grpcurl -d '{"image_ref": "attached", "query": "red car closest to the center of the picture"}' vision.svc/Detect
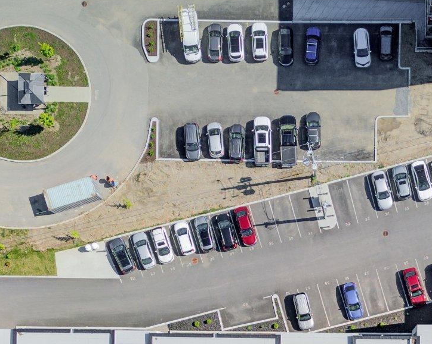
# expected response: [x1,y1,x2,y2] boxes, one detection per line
[235,207,257,246]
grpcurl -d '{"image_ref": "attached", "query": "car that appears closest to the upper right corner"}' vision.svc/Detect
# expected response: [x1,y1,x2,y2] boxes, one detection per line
[376,21,395,64]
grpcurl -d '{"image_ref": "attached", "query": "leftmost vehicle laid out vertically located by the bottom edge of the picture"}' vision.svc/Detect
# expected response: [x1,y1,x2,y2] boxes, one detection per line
[292,292,313,329]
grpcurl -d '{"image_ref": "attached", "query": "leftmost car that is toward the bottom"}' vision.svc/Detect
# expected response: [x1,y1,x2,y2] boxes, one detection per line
[109,238,134,275]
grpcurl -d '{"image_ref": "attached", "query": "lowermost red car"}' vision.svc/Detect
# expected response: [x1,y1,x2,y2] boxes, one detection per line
[403,267,425,306]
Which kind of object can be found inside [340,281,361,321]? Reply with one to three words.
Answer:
car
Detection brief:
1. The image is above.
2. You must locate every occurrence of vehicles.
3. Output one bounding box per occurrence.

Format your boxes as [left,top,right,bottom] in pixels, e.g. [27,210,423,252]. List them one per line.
[192,214,217,252]
[370,171,392,210]
[225,23,244,63]
[172,219,197,257]
[275,26,294,68]
[292,292,313,329]
[206,123,225,159]
[109,238,134,275]
[252,117,272,166]
[303,27,321,66]
[215,212,238,251]
[250,22,269,61]
[376,21,395,64]
[151,226,176,265]
[411,161,432,200]
[278,117,297,168]
[175,8,201,64]
[353,27,372,69]
[302,112,320,150]
[182,120,203,163]
[235,207,257,246]
[403,267,425,306]
[205,25,224,61]
[340,281,361,321]
[226,125,245,163]
[132,231,156,270]
[389,163,412,202]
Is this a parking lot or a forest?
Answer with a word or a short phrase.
parking lot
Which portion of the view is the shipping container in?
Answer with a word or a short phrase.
left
